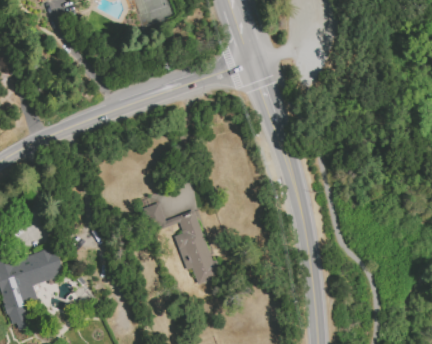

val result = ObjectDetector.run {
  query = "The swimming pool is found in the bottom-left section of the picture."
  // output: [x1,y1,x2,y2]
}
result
[48,277,91,312]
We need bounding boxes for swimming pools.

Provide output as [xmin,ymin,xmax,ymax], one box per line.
[77,0,128,22]
[48,277,91,312]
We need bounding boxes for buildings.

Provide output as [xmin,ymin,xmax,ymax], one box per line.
[0,252,59,330]
[142,200,213,281]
